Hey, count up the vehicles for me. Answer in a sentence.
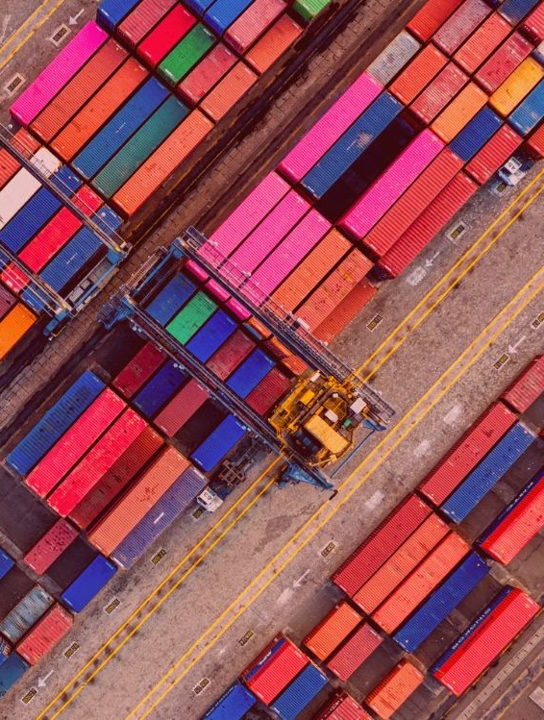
There are 2 vehicles in the image.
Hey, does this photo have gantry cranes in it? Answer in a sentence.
Yes, a gantry crane appears in the view.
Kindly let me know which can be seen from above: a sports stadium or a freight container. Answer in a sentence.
The image shows a freight container.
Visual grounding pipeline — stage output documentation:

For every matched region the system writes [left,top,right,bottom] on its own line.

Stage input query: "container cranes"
[0,114,136,342]
[94,212,402,501]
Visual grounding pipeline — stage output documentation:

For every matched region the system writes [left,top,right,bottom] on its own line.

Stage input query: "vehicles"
[193,431,272,514]
[489,144,535,192]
